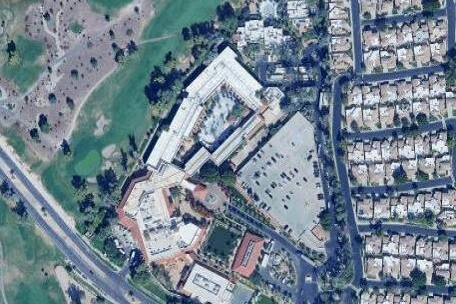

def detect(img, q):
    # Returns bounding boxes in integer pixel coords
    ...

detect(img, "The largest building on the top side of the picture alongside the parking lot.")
[145,46,263,178]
